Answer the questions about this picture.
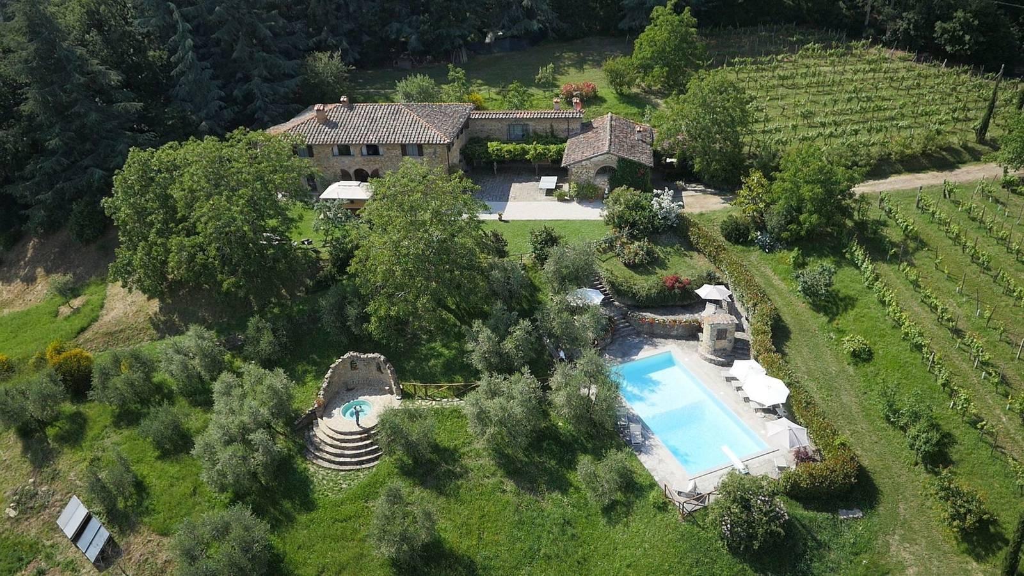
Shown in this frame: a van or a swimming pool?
swimming pool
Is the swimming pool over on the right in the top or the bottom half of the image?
bottom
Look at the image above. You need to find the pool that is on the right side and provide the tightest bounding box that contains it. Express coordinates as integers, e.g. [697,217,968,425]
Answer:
[592,347,779,484]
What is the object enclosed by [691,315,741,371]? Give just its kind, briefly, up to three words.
shed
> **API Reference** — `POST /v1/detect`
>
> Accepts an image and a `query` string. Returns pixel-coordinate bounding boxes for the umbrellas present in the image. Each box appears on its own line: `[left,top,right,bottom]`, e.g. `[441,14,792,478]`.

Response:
[770,416,816,455]
[569,287,605,307]
[695,285,730,312]
[741,375,790,417]
[690,467,698,496]
[728,359,766,382]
